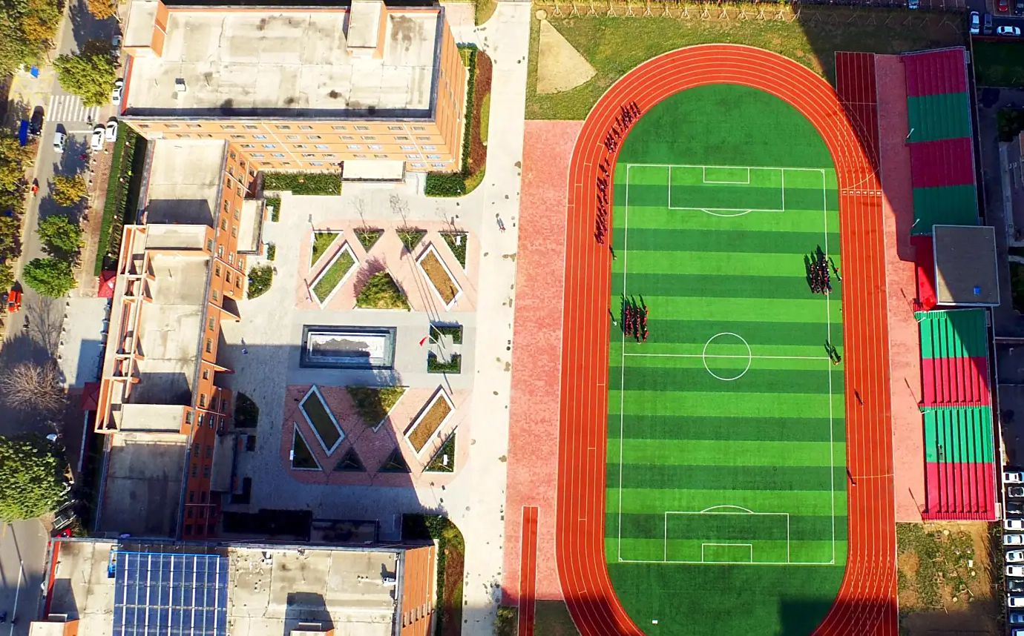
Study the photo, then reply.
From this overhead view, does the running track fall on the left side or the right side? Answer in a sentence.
The running track sits on the right side.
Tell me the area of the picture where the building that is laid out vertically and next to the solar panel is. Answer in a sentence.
You can find the building that is laid out vertically and next to the solar panel in the left area of the picture.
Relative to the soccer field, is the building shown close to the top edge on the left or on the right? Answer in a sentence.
The soccer field has the building shown close to the top edge on its left side.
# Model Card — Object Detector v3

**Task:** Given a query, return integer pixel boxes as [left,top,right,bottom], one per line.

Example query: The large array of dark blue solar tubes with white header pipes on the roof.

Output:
[109,548,235,636]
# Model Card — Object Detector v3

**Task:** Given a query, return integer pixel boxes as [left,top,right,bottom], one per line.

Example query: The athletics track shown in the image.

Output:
[555,44,901,636]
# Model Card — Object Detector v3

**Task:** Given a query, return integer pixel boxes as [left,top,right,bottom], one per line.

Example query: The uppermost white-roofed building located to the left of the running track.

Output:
[117,0,468,196]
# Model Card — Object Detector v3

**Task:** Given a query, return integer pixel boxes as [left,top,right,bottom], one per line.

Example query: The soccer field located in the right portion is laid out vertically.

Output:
[606,85,848,636]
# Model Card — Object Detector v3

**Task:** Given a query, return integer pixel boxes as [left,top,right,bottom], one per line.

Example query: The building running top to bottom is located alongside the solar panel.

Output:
[92,138,279,541]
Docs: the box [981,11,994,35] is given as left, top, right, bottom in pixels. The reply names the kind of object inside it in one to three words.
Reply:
vehicle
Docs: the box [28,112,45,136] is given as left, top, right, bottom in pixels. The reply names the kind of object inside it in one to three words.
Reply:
car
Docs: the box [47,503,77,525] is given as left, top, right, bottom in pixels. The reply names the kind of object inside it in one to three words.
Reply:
truck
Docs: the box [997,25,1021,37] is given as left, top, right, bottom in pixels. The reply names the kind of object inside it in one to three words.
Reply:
vehicle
